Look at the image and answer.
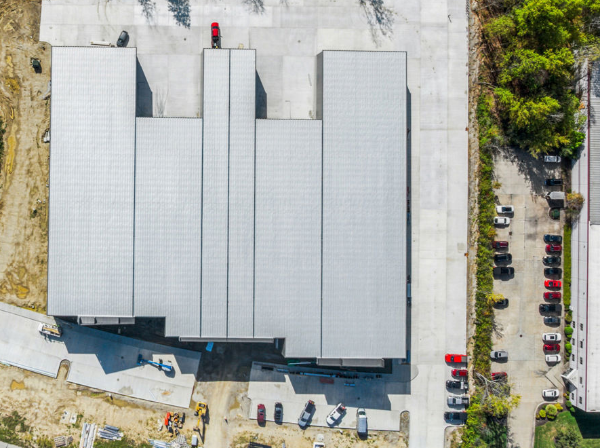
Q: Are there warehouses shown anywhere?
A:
Yes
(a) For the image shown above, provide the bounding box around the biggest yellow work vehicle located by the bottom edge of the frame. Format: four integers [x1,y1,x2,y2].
[193,403,207,437]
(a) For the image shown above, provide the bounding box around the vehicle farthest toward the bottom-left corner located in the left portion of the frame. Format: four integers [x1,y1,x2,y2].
[39,324,61,337]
